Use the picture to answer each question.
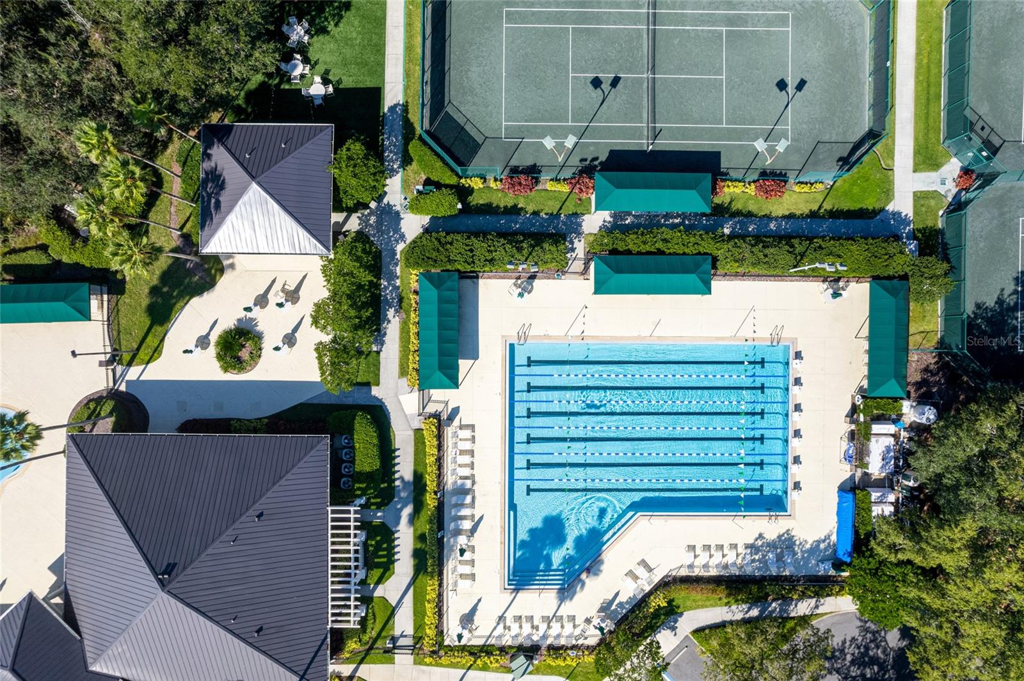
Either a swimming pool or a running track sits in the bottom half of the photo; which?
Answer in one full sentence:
The one visible in the bottom half of the photo is a swimming pool.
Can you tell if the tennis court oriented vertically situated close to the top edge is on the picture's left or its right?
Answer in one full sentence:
The tennis court oriented vertically situated close to the top edge is on the right side of the image.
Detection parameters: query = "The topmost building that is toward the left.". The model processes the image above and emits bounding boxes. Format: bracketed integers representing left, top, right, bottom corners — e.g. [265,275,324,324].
[198,121,342,258]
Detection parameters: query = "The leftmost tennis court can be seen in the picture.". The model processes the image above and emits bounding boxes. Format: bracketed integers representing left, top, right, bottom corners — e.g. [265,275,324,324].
[426,0,871,181]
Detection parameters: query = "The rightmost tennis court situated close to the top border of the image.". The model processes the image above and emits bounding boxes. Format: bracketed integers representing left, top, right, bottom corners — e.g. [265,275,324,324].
[942,0,1024,179]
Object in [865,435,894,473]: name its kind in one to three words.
shed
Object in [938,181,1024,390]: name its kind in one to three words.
tennis court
